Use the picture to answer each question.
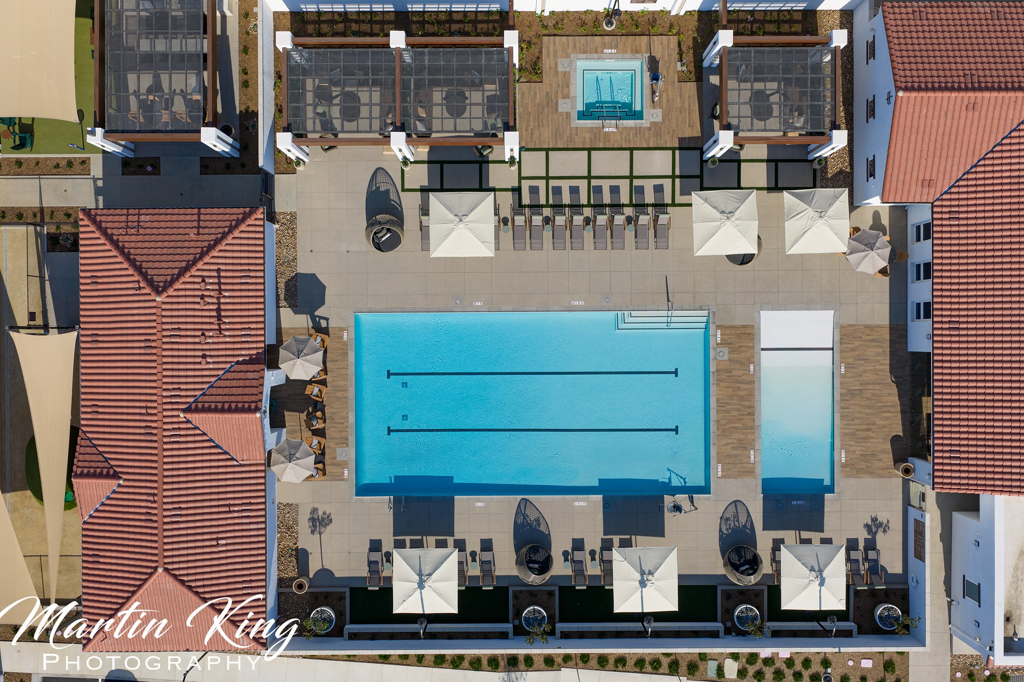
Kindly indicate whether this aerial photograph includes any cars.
No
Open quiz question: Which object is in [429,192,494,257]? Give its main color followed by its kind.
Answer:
white umbrella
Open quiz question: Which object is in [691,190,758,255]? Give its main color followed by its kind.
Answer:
white umbrella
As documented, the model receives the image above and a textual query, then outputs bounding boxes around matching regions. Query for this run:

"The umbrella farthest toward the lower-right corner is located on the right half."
[780,544,847,611]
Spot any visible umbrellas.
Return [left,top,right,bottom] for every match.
[844,228,892,275]
[783,188,850,254]
[612,546,679,613]
[393,548,458,614]
[691,190,758,255]
[279,336,323,380]
[780,544,847,611]
[270,438,316,484]
[429,192,494,257]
